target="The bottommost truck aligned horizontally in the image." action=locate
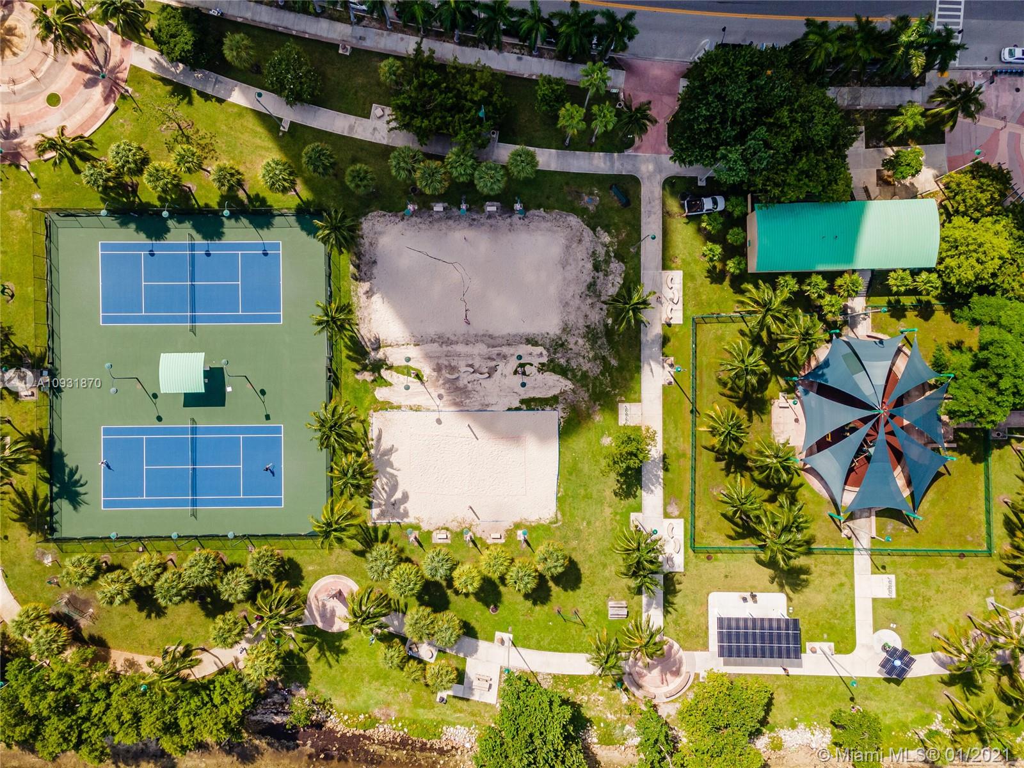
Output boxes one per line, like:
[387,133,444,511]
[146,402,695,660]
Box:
[684,193,727,214]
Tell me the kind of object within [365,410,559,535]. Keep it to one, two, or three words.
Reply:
sports court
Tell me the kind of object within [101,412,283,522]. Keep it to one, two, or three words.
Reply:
tennis court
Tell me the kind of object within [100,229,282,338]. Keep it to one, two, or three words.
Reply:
tennis court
